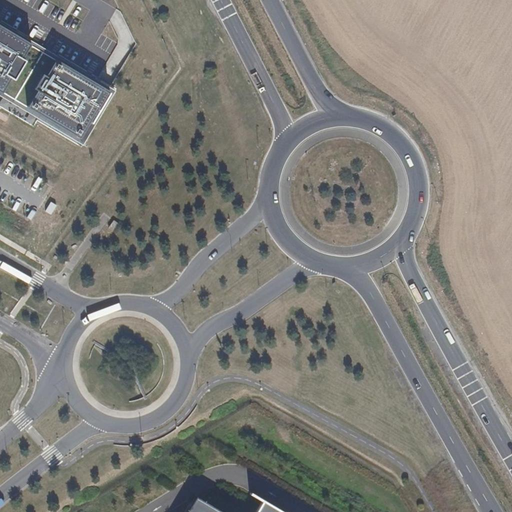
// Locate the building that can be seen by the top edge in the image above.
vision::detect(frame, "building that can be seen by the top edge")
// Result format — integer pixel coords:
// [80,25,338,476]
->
[0,26,118,149]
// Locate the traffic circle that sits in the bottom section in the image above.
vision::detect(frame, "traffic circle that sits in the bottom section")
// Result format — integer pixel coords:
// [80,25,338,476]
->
[54,294,198,436]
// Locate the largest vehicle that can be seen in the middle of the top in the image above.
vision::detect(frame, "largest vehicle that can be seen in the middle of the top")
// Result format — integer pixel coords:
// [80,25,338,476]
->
[248,69,266,93]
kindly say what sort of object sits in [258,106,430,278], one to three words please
roundabout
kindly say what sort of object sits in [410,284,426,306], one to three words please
vehicle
